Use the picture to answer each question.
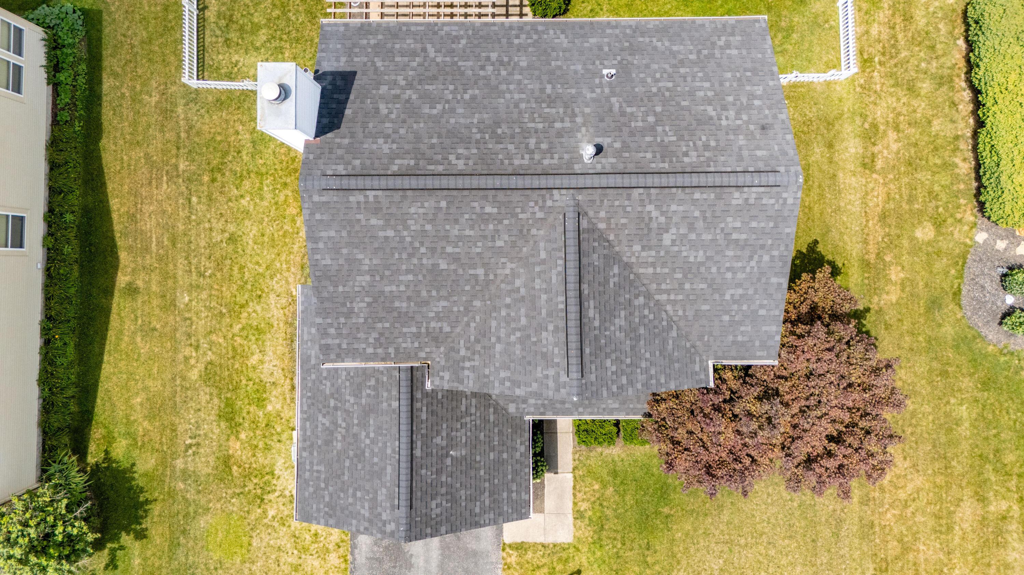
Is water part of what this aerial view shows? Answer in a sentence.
No, the picture contains no water.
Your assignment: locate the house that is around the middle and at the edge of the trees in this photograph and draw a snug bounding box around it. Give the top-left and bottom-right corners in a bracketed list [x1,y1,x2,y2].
[258,15,803,544]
